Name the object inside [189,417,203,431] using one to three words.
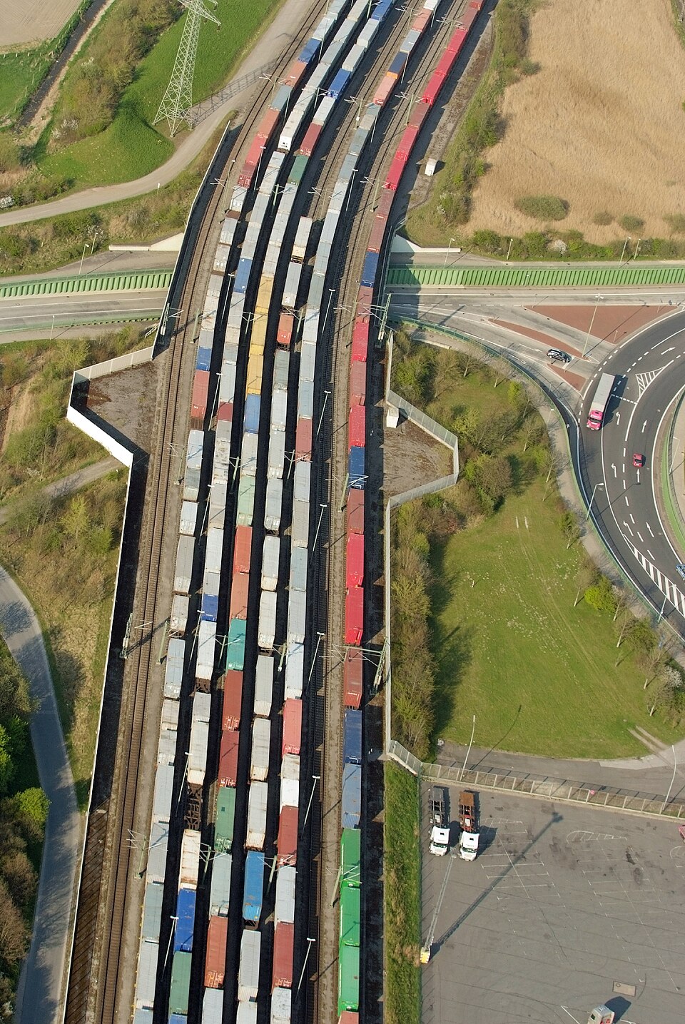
rail car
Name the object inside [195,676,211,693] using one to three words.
rail car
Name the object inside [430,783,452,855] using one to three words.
truck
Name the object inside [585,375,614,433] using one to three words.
truck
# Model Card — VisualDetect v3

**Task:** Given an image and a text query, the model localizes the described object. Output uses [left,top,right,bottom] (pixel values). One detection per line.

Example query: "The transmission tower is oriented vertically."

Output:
[157,0,221,139]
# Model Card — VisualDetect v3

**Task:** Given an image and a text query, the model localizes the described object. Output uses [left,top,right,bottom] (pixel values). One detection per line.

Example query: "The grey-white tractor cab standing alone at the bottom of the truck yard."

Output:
[588,1003,624,1024]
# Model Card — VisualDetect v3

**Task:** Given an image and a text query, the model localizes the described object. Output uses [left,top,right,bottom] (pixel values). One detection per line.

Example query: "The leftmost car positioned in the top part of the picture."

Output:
[547,348,571,362]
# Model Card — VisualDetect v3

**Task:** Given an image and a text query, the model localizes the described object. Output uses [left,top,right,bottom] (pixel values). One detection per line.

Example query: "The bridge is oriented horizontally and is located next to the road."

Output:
[163,235,395,335]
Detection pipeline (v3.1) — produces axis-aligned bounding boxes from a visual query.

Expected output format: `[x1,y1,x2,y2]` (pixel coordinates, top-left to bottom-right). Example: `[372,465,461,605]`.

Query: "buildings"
[424,159,439,176]
[386,407,400,428]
